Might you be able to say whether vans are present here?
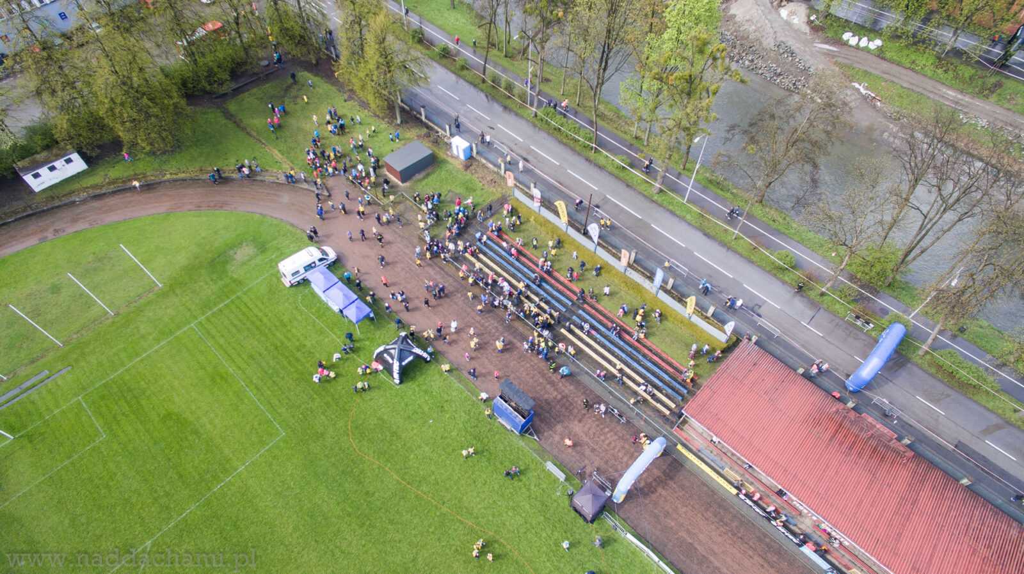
Yes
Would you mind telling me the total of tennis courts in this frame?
0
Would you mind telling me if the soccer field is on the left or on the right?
left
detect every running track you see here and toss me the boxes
[0,174,827,574]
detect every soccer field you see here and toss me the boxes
[0,212,676,574]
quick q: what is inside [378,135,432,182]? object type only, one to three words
shed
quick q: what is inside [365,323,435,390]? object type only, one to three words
tent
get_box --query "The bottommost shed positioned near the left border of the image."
[17,145,86,191]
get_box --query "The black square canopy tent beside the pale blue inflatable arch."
[569,480,608,525]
